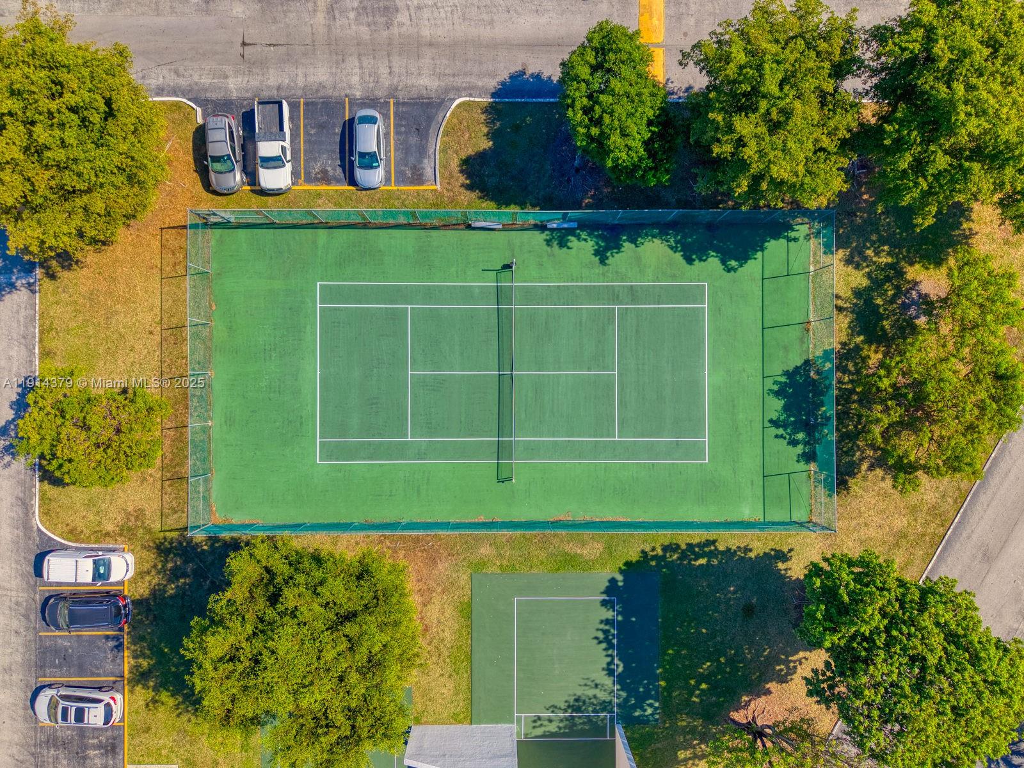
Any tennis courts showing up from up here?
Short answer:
Yes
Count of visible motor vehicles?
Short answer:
6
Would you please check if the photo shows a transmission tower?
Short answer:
No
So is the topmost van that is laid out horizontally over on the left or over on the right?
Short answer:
left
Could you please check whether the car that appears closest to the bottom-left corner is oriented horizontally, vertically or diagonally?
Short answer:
horizontally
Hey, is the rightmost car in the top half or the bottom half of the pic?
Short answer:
top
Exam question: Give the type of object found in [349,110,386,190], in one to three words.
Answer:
car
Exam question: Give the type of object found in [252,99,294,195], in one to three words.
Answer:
truck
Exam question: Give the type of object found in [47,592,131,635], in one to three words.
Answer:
car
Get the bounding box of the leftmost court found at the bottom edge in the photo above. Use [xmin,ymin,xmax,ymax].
[260,688,412,768]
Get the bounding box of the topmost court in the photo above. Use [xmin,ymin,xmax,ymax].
[212,225,811,522]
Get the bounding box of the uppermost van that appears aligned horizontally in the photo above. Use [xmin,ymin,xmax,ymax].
[39,549,137,589]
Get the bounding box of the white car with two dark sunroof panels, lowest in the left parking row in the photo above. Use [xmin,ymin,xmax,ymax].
[36,683,123,728]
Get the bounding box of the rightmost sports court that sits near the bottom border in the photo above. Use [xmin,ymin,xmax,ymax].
[472,573,659,768]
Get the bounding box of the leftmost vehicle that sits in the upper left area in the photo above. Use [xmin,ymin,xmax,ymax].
[205,115,247,193]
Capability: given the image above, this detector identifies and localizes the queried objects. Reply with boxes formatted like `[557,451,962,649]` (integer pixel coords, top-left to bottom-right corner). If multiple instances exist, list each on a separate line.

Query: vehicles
[39,549,137,589]
[47,592,131,635]
[252,99,294,195]
[205,115,247,193]
[36,683,123,728]
[349,110,386,190]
